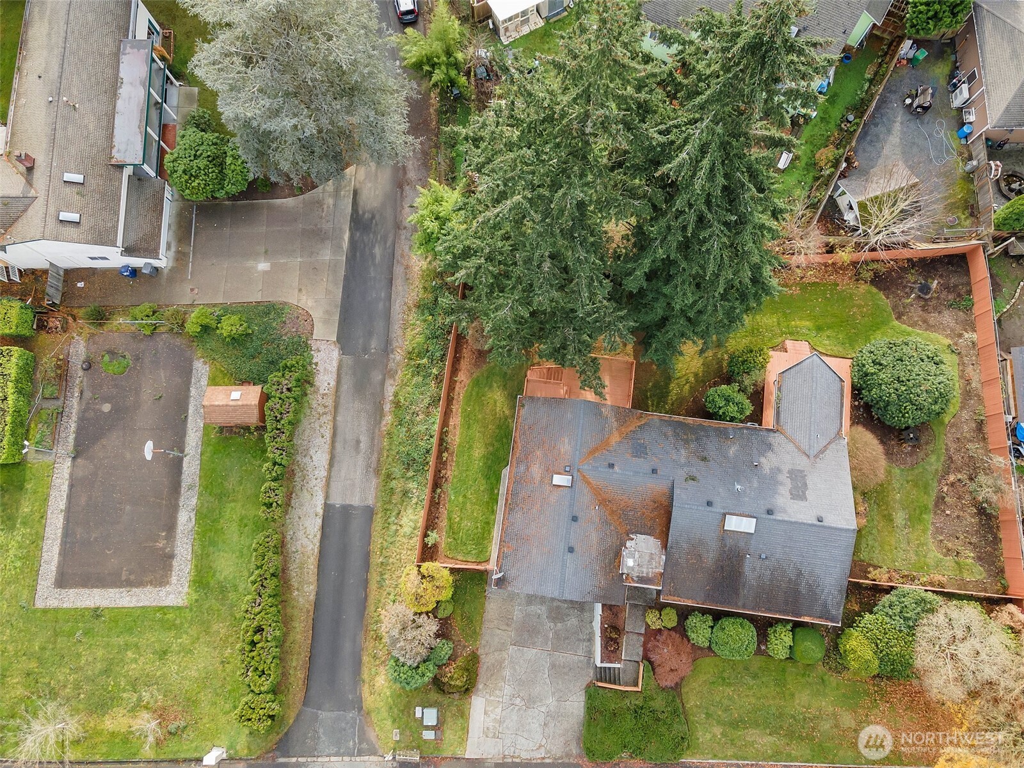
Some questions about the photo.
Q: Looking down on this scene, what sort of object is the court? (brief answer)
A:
basketball court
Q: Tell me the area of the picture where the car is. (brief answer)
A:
top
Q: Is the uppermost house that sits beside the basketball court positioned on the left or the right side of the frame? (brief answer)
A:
left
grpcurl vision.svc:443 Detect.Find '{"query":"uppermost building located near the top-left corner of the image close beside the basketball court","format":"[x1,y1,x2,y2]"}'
[0,0,178,269]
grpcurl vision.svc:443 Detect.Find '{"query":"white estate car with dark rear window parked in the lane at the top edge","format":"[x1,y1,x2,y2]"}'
[397,0,421,22]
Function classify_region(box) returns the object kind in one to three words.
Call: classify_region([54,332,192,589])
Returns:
basketball court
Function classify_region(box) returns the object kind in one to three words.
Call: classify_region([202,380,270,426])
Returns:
shed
